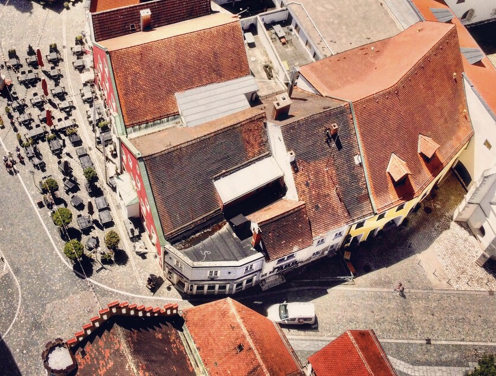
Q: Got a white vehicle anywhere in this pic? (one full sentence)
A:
Yes, the picture does show a white vehicle.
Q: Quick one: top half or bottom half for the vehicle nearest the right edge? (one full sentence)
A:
You can find the vehicle nearest the right edge in the bottom half.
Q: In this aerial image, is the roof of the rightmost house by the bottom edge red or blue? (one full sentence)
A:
In this view, the roof of the rightmost house by the bottom edge is red.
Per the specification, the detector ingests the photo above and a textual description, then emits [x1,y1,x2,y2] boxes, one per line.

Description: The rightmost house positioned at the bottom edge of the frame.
[304,331,393,376]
